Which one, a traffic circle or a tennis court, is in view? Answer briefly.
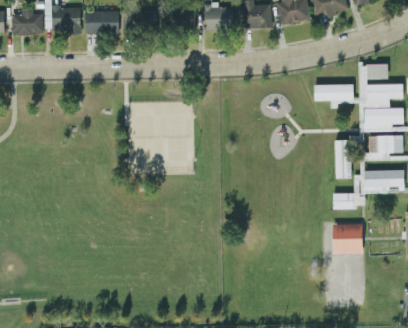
tennis court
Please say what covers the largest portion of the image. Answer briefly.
grass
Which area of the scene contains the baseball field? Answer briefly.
bottom left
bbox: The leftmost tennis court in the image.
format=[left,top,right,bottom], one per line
[130,103,162,174]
